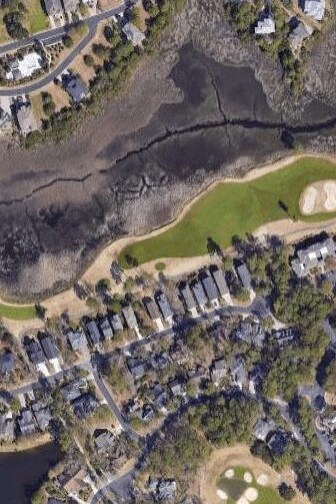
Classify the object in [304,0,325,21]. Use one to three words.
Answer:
house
